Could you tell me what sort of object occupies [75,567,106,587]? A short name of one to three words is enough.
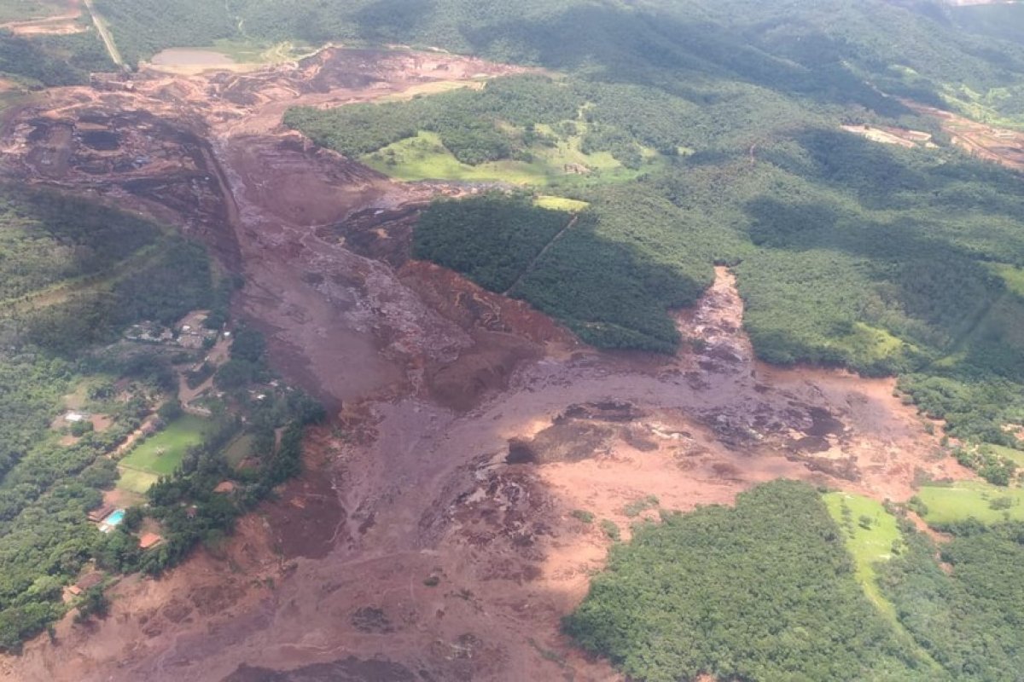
house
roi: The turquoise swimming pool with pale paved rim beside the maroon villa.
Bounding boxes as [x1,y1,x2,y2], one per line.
[100,509,128,526]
